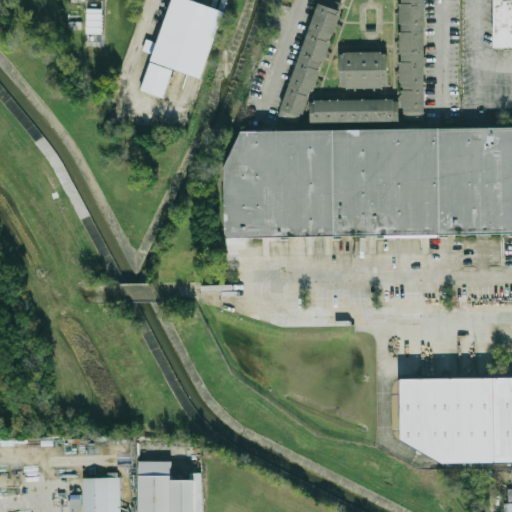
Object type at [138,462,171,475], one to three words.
shed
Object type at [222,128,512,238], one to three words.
warehouse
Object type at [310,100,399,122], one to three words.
building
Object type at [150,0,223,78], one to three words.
building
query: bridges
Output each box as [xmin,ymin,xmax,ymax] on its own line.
[108,283,158,304]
